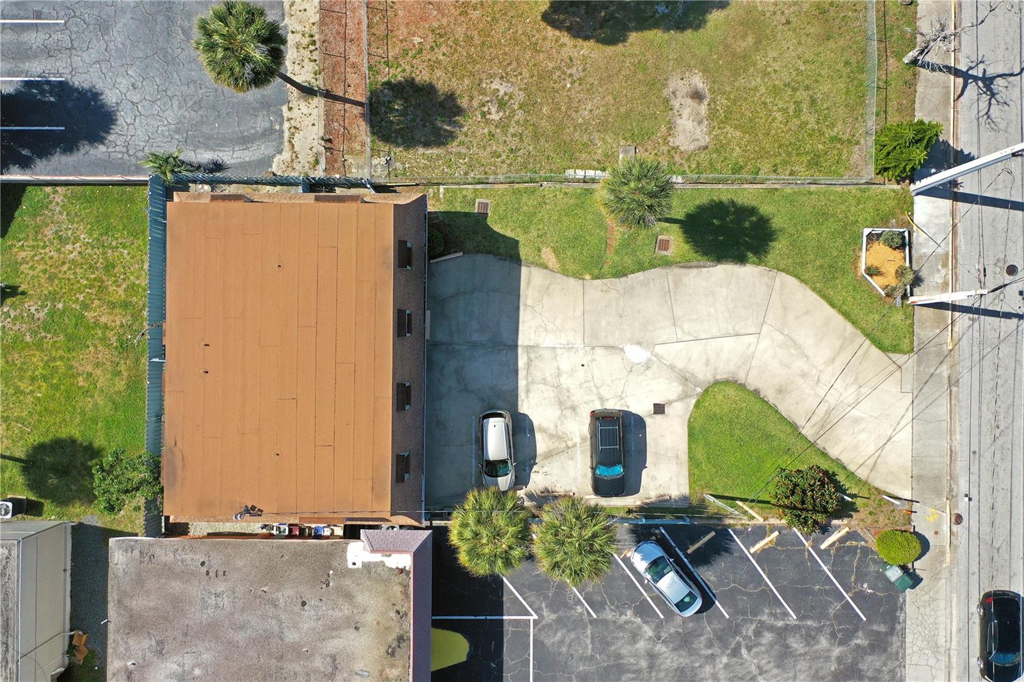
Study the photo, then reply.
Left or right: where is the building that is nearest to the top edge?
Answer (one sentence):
You can find the building that is nearest to the top edge on the left side of the picture.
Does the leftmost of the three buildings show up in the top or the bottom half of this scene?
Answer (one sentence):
The bottom half of the photo is where the leftmost of the three buildings is.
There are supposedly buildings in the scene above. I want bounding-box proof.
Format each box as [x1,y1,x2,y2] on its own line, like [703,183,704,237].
[108,520,432,682]
[161,192,429,526]
[0,522,72,682]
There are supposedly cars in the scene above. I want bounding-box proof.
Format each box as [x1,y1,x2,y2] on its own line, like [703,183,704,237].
[586,406,630,496]
[629,538,701,622]
[477,410,517,489]
[977,592,1024,680]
